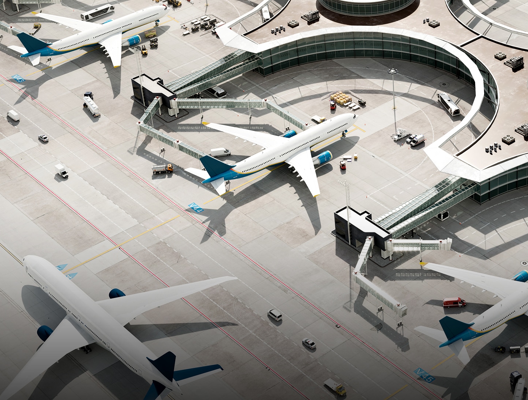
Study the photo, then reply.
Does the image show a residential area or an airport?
airport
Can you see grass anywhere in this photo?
No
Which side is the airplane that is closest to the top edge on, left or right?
left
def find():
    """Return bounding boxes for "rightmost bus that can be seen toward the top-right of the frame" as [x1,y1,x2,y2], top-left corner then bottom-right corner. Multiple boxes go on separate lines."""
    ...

[436,95,460,119]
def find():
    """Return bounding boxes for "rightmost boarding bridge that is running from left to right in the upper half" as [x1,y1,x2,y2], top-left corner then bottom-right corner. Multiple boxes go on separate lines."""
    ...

[169,96,317,132]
